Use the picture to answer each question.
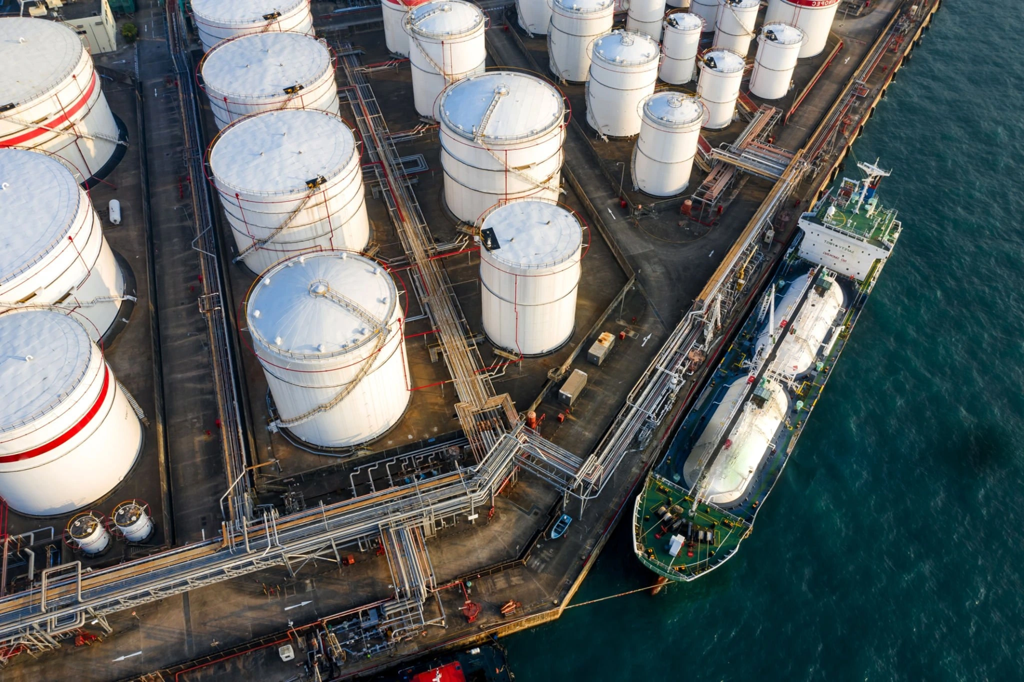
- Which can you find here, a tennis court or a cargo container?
cargo container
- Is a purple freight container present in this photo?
No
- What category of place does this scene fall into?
industrial area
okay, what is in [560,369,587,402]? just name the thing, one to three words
shipping container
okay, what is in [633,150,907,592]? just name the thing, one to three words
ship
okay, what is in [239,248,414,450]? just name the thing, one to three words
storage tank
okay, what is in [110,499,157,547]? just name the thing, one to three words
storage tank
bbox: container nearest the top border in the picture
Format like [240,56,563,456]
[589,330,616,363]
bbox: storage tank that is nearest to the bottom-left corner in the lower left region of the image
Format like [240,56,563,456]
[65,510,114,558]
